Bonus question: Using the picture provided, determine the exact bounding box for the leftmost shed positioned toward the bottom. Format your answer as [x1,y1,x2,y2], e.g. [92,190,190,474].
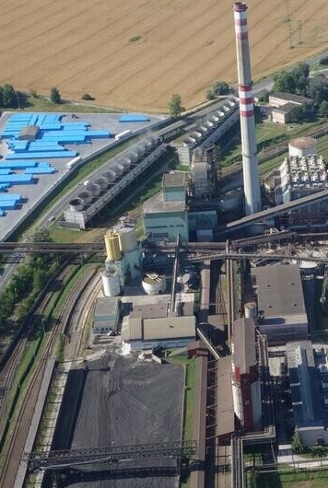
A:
[93,296,124,331]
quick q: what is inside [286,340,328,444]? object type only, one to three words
building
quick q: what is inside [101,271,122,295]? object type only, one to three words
silo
